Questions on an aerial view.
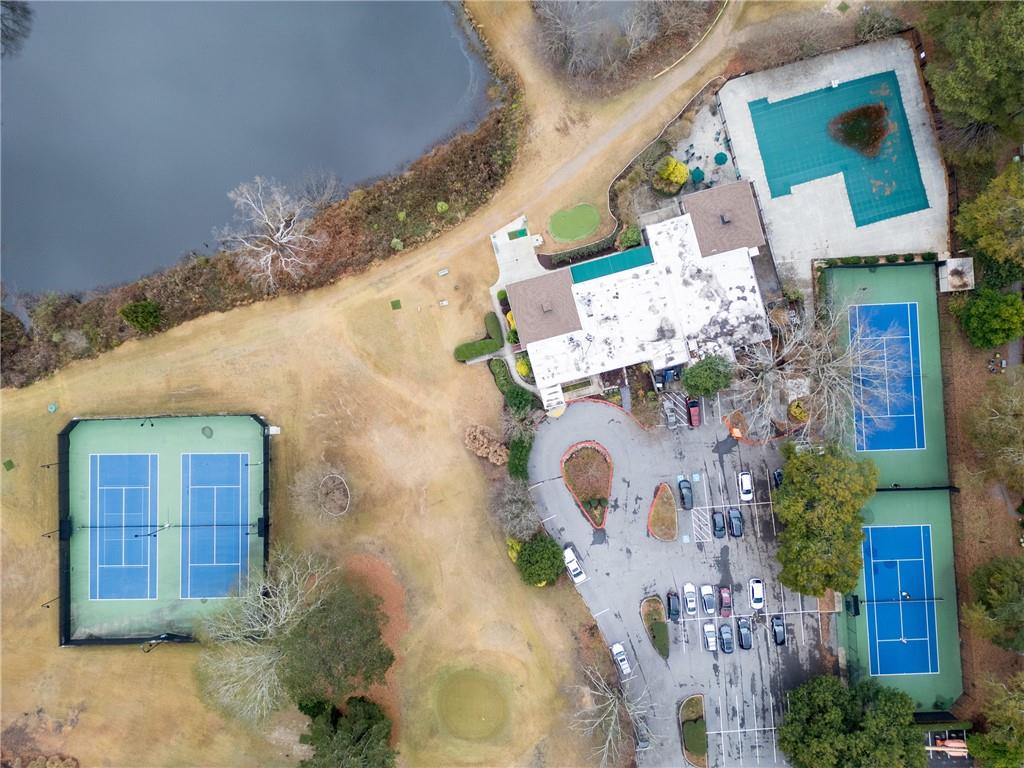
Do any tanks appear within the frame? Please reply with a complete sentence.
No, the picture doesn't show any tank.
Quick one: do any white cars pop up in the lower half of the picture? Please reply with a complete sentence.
Yes, there is a white car in the lower half of the picture.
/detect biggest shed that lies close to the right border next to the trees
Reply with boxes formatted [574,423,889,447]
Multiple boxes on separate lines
[931,258,974,293]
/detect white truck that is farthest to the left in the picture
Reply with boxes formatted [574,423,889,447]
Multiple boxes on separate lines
[563,547,586,583]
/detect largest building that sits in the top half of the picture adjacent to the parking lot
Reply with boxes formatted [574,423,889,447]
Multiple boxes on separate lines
[506,180,772,390]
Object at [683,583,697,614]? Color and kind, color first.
white car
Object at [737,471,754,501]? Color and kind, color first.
white car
